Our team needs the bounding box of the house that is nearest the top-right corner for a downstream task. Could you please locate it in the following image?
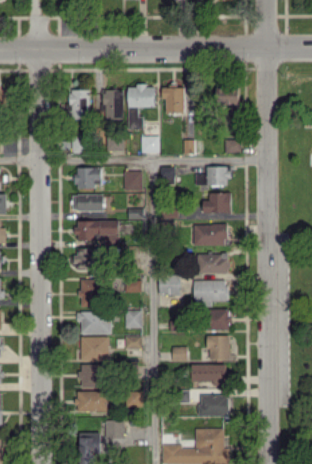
[216,84,240,106]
